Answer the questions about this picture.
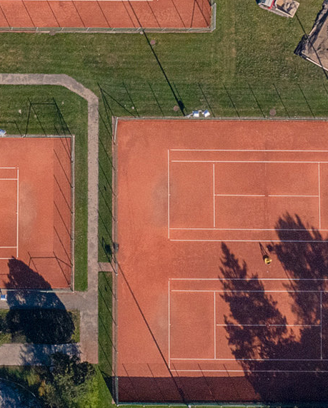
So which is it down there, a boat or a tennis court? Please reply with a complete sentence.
This aerial view contains a tennis court.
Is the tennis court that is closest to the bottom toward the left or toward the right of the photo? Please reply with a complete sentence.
The tennis court that is closest to the bottom is on the right side of the image.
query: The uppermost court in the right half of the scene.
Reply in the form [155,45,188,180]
[116,119,328,260]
